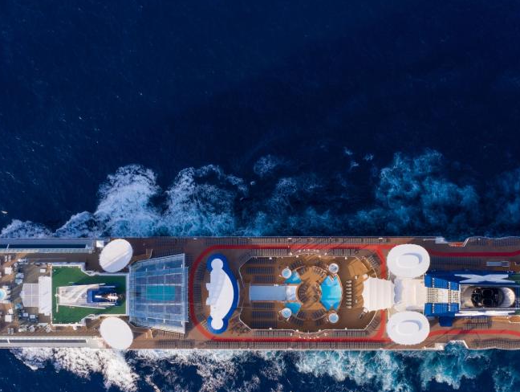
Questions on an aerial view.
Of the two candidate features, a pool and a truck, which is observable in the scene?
pool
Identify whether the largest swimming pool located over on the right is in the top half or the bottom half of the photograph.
bottom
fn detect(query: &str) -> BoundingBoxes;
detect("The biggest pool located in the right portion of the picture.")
[320,274,343,312]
